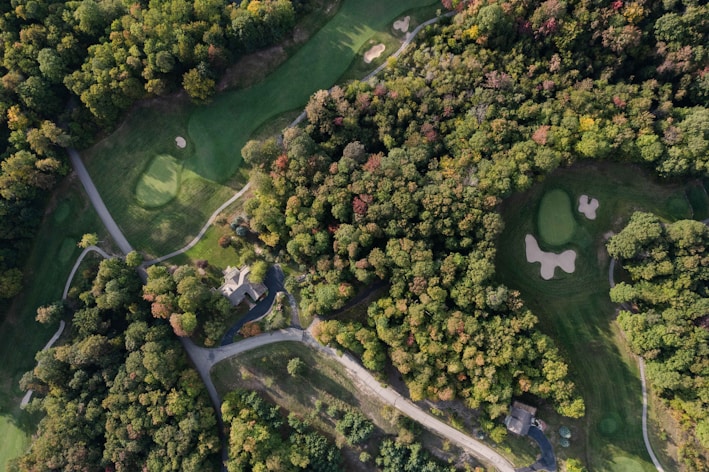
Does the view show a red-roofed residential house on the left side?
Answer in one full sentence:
No, no red-roofed residential house can be made out on the left side.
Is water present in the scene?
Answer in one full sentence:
No, water can't be seen anywhere here.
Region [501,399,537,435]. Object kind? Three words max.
house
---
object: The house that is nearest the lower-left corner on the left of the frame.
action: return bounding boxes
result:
[221,263,269,311]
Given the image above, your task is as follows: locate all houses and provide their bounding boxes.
[221,263,269,311]
[501,399,537,435]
